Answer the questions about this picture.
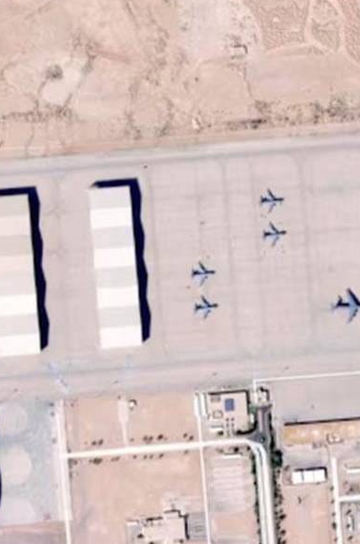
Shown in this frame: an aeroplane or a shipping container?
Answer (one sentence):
The image shows an aeroplane.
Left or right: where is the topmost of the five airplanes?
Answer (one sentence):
You can find the topmost of the five airplanes on the right side of the picture.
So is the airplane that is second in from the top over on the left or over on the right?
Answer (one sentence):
It is on the right.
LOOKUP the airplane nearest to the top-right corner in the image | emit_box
[258,190,282,213]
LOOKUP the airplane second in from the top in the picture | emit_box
[261,224,285,247]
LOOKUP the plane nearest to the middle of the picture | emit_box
[189,263,213,286]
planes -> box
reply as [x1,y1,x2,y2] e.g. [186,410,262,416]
[261,224,285,247]
[189,263,213,286]
[192,297,216,320]
[258,190,282,213]
[332,291,360,323]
